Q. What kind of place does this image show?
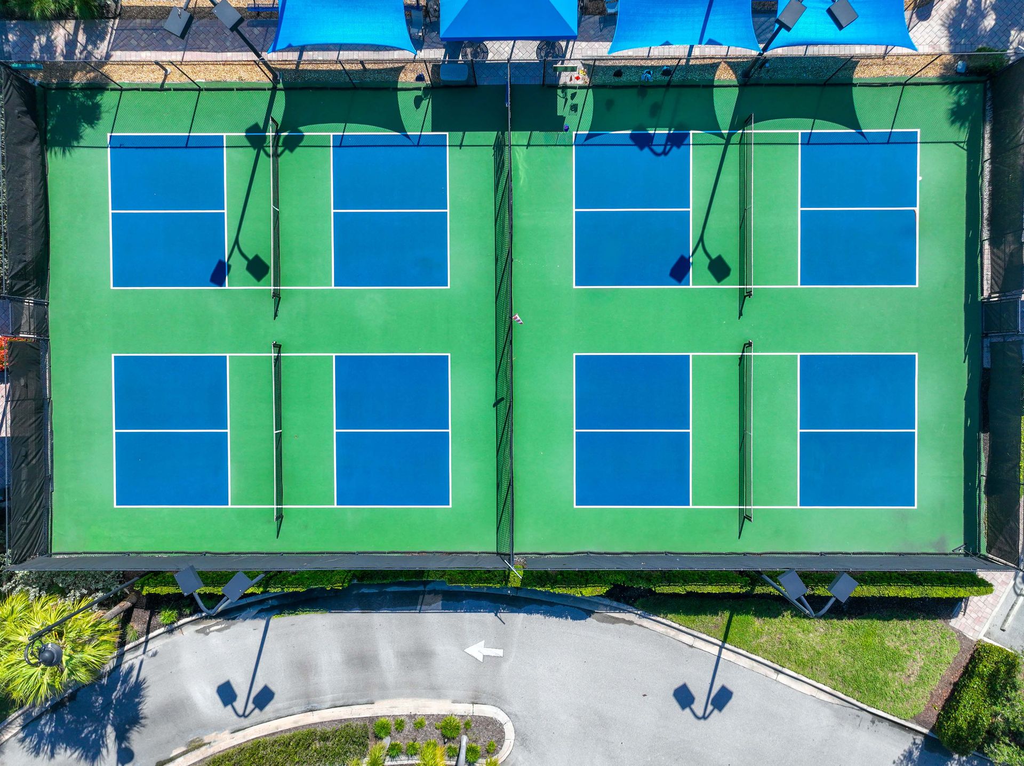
sports ground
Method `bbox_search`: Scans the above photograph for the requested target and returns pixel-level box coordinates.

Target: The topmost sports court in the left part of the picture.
[108,131,450,289]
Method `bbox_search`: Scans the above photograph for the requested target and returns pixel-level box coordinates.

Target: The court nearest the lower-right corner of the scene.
[573,352,918,508]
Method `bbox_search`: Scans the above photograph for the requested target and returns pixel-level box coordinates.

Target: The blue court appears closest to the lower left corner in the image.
[111,353,451,508]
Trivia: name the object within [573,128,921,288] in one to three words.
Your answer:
sports court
